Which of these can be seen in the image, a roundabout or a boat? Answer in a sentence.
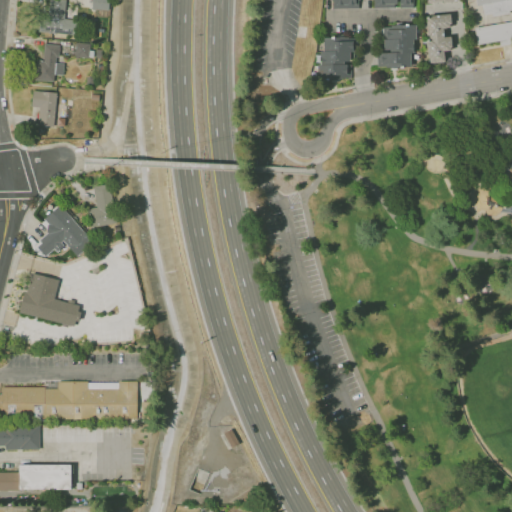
It is a roundabout that can be seen here.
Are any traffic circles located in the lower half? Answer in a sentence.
No, no traffic circle is visible in the lower half.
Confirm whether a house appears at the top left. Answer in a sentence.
Yes, looking at the top left, one can make out a house.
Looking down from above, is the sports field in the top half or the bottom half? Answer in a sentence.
The bottom half of the photo is where the sports field is.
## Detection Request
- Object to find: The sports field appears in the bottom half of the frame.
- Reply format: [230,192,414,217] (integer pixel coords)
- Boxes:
[460,332,512,479]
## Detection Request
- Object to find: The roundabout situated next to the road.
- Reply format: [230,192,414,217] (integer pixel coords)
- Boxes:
[284,104,342,158]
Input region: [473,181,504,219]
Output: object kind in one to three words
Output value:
playground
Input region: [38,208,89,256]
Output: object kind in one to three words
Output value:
house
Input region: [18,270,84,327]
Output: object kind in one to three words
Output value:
building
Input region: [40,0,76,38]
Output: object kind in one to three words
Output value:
house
